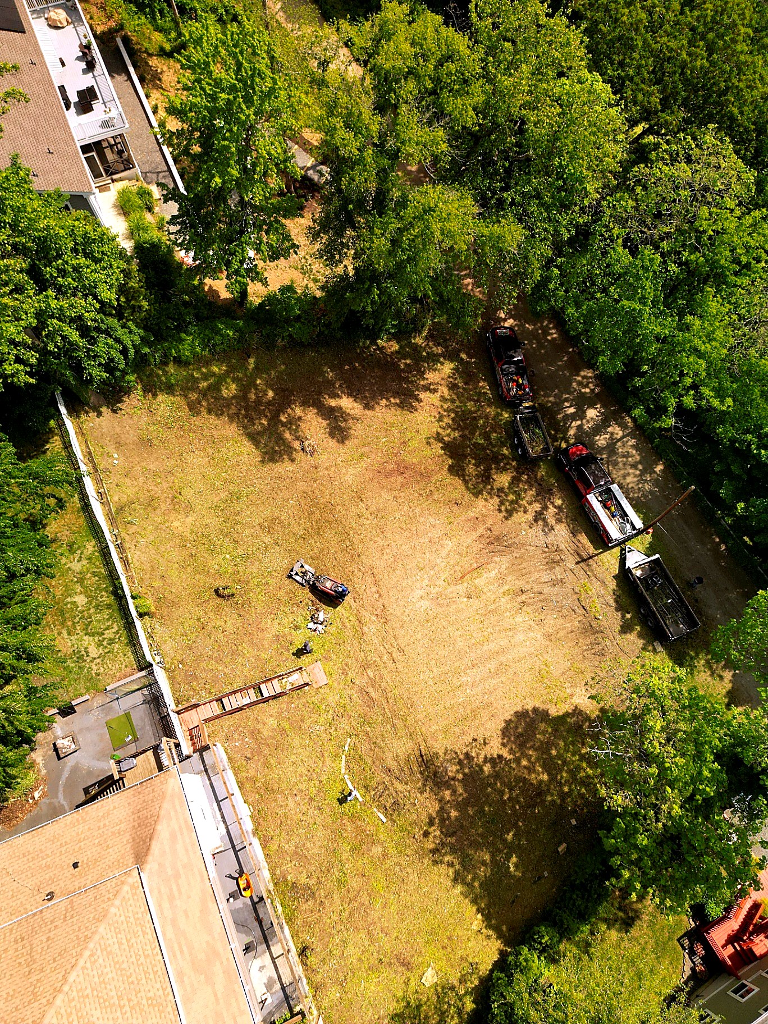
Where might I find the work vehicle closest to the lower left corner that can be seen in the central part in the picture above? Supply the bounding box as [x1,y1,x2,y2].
[284,558,352,607]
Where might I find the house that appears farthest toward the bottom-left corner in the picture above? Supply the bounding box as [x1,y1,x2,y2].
[0,764,270,1024]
